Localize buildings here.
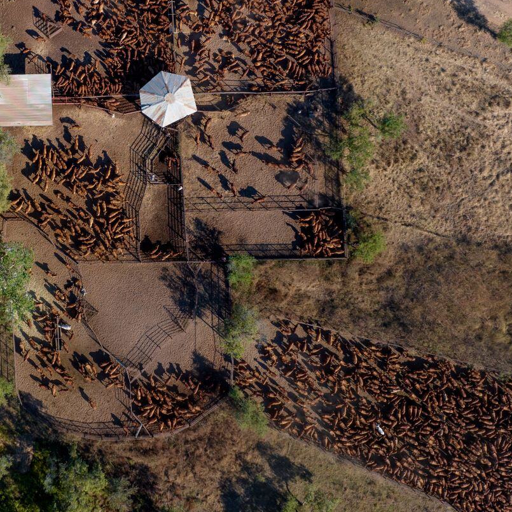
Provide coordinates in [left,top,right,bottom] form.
[0,74,53,129]
[139,70,197,130]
